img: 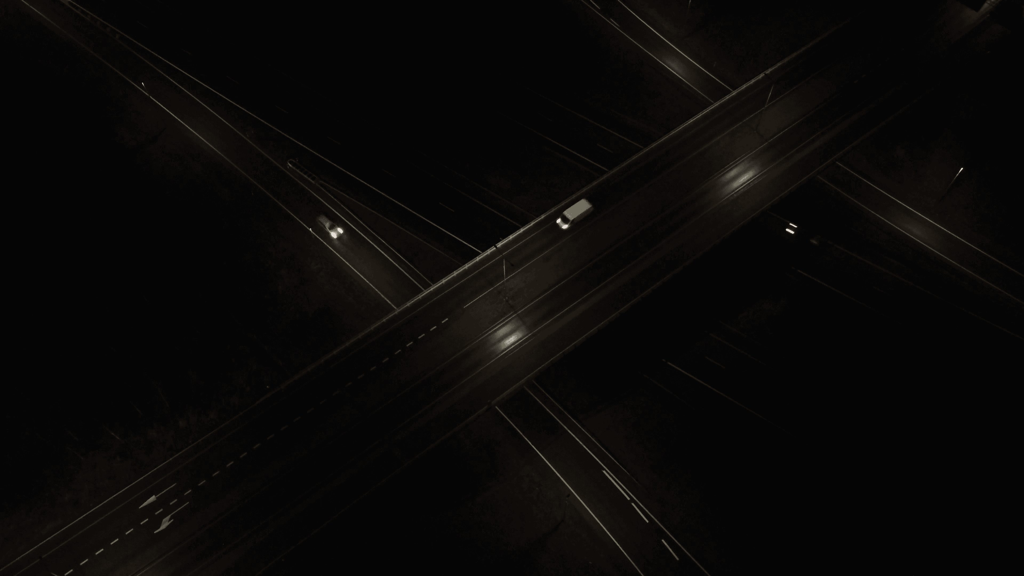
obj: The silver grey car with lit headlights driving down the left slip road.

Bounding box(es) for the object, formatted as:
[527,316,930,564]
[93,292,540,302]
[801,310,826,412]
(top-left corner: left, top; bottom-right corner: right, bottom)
[315,214,341,237]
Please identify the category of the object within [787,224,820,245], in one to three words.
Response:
car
